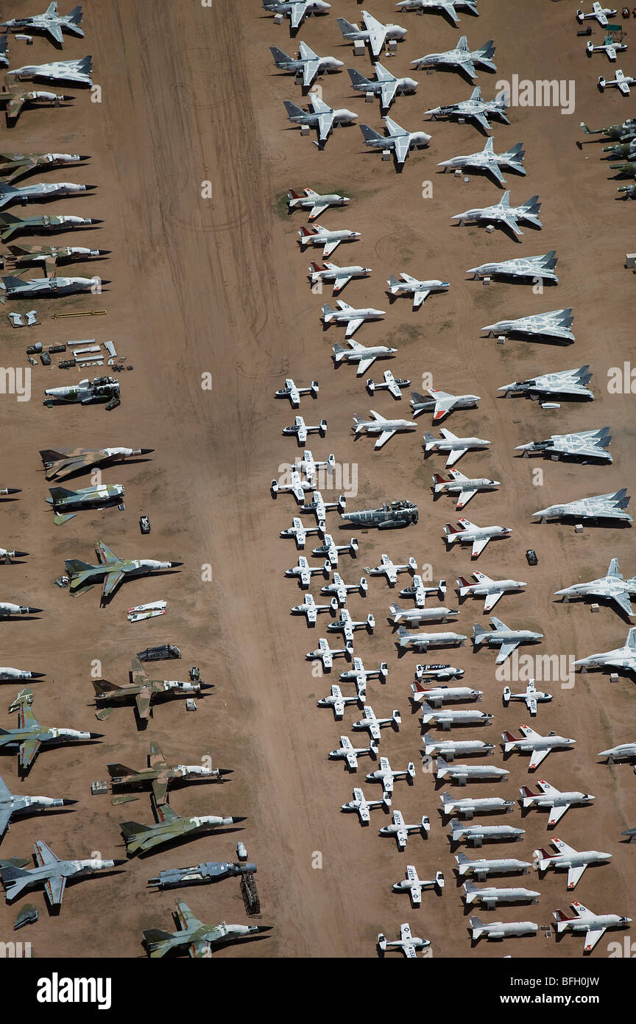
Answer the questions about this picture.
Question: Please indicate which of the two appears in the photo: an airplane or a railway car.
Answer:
airplane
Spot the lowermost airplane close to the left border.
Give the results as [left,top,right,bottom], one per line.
[0,837,127,902]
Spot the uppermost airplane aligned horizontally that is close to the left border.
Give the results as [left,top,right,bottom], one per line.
[0,6,85,44]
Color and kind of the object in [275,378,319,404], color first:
white airplane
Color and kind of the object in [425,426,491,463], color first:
white airplane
